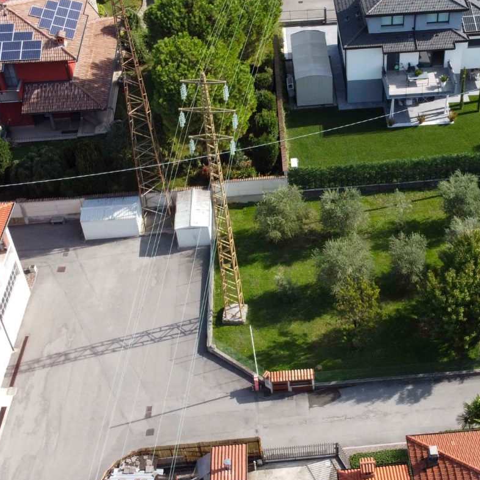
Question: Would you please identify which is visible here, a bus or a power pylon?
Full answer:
Of the two, only a power pylon appears.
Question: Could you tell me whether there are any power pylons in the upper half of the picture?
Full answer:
Yes, a power pylon appears in the upper half of the picture.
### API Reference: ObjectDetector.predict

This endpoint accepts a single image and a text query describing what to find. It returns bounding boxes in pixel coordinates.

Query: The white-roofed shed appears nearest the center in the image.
[167,182,212,250]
